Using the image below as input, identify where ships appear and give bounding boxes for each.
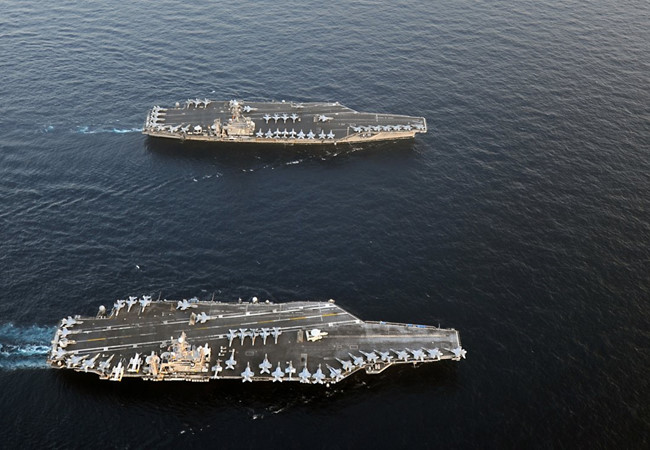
[143,95,426,146]
[46,296,461,387]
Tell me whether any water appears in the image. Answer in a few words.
Yes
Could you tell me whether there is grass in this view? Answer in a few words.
No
